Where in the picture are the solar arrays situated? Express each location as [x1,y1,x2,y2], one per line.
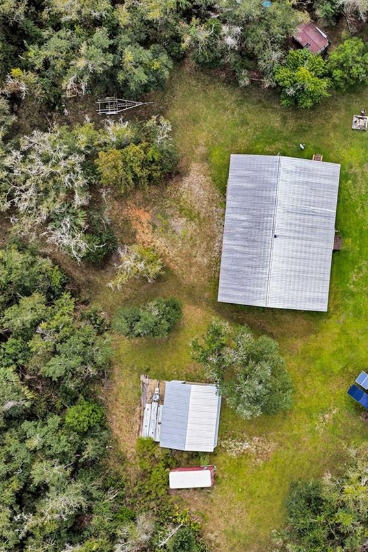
[348,385,368,409]
[356,371,368,391]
